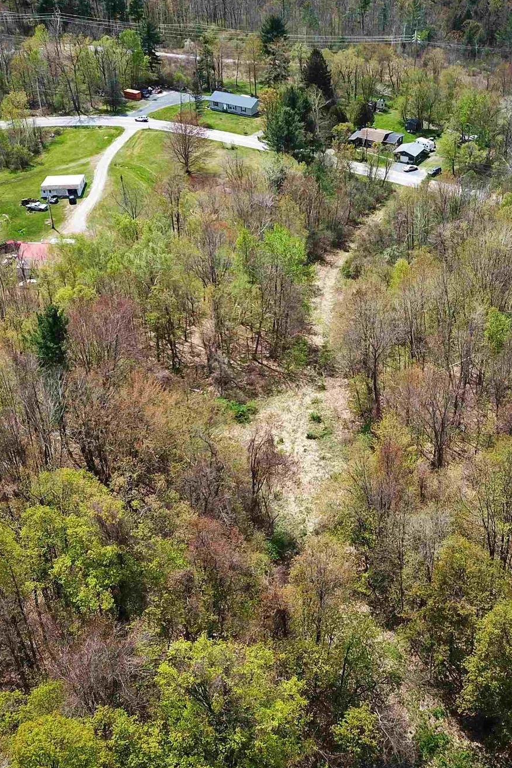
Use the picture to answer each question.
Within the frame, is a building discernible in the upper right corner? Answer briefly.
Yes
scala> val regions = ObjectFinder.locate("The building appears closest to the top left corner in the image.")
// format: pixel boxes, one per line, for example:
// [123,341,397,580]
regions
[37,173,86,196]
